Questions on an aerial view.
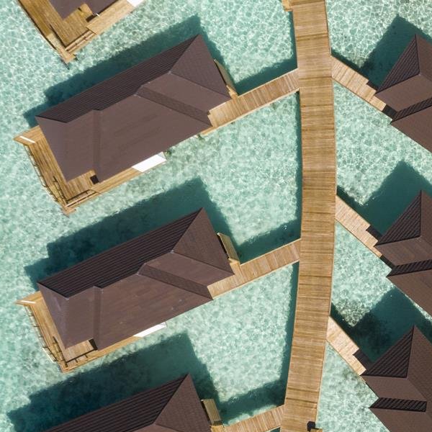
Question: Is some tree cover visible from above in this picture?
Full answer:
No, there's no tree cover in this view.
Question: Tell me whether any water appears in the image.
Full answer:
Yes, there's water in this view.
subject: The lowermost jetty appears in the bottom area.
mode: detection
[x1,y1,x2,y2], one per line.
[225,404,282,432]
